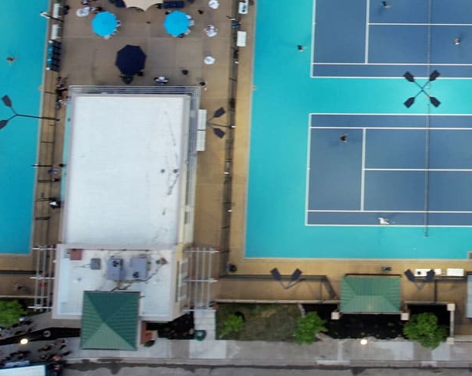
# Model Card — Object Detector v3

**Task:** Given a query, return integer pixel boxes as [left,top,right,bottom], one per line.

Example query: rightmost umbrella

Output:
[166,11,192,36]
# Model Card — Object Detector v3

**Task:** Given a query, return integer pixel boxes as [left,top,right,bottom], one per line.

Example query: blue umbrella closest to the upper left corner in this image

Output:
[93,12,121,37]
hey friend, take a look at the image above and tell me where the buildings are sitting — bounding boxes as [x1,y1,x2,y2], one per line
[340,275,403,313]
[23,86,219,350]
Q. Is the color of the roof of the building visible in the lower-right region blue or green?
green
